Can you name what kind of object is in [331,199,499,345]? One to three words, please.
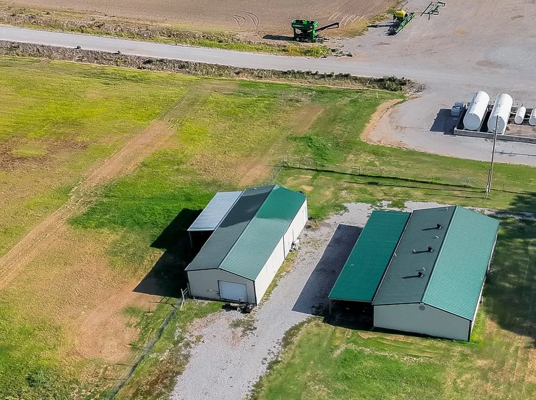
barn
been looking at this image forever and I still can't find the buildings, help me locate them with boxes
[331,199,499,345]
[182,182,308,310]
